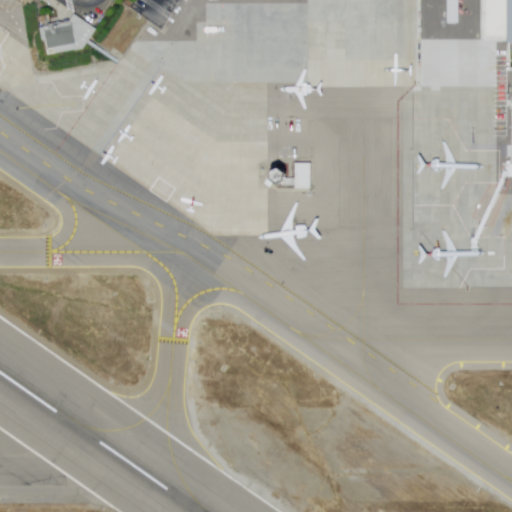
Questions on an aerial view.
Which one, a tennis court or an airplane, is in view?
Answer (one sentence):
There is an airplane in the scene.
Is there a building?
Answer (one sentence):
Yes, looking at the shot, I can spot a building.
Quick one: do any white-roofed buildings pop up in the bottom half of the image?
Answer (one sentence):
No, there is no white-roofed building in the bottom half of the image.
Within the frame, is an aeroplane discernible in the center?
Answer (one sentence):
Yes, the scene does show an aeroplane in the center.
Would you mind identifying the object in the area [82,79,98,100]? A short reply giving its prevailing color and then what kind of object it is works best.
white airplane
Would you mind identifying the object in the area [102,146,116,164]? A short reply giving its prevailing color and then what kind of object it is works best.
white airplane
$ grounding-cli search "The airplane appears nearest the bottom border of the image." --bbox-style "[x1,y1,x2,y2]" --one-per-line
[418,231,482,278]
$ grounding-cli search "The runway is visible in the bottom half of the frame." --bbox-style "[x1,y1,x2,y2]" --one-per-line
[0,314,282,512]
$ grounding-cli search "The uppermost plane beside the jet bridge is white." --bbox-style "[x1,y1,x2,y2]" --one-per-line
[419,144,482,190]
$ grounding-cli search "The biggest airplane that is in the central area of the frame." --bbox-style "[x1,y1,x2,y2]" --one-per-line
[260,201,322,260]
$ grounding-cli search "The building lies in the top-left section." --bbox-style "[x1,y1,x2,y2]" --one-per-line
[39,14,96,54]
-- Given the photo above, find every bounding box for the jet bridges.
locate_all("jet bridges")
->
[472,168,506,252]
